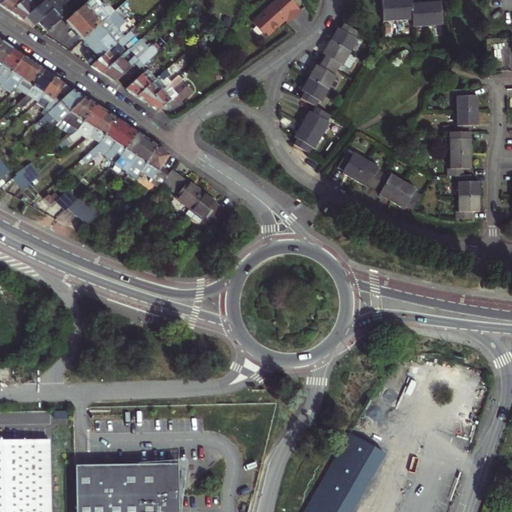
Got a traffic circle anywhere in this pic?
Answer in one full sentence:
Yes, you can see a traffic circle in this photo.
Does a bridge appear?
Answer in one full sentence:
No, no bridge is visible in the scene.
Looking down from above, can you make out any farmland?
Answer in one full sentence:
No, farmland can't be seen anywhere here.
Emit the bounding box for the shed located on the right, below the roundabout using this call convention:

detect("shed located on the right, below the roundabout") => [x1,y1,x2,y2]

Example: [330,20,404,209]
[296,429,384,512]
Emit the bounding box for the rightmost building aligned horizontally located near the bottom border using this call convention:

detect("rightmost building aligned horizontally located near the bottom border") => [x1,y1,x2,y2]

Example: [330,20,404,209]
[76,458,188,512]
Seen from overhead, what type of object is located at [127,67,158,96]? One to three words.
house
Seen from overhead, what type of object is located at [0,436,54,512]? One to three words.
building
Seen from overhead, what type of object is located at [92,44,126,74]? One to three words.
house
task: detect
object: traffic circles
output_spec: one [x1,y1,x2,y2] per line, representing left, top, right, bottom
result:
[220,234,360,373]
